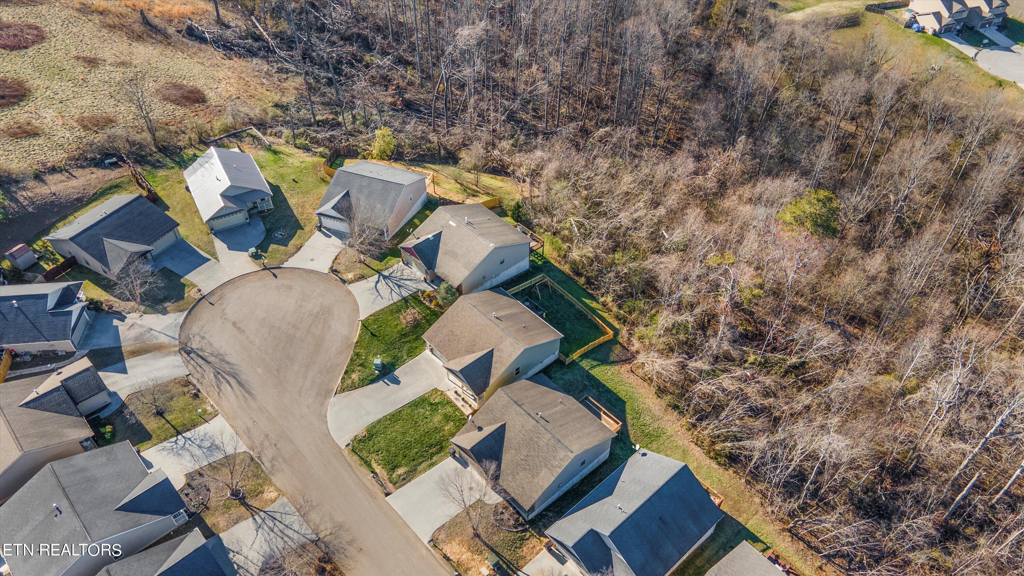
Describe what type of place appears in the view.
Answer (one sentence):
The picture captures a residential area.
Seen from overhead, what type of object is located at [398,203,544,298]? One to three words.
house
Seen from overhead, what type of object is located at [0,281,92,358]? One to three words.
house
